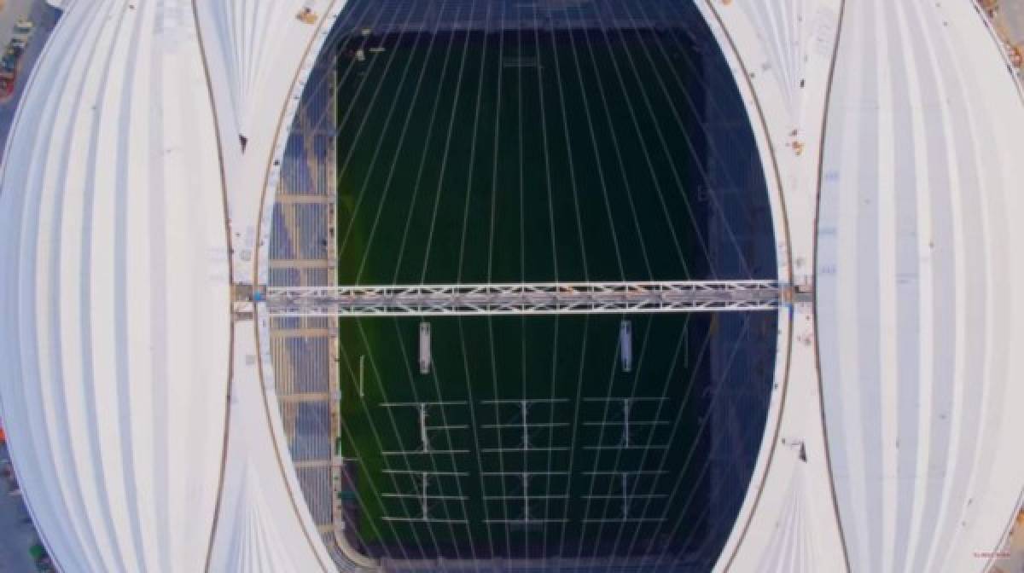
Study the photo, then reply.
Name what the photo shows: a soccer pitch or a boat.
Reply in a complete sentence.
There is a soccer pitch in the scene.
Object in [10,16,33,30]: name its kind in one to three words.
vehicle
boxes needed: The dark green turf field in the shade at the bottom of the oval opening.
[338,35,706,551]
